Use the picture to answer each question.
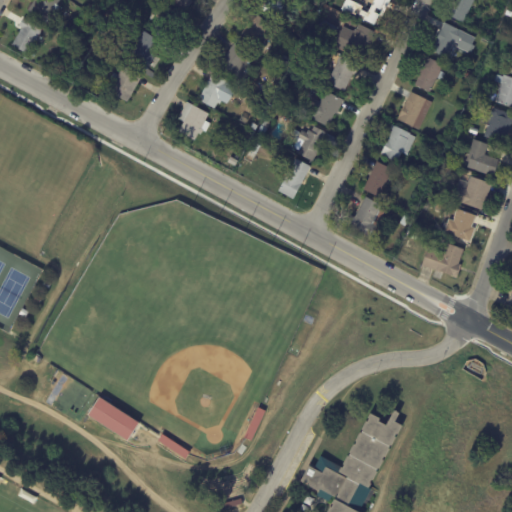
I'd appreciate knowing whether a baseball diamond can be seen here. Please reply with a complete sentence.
Yes, looking at the shot, I can spot a baseball diamond.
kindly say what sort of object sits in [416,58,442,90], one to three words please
house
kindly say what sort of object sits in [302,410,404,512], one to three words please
building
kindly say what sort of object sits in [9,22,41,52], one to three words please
house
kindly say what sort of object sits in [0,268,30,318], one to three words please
tennis court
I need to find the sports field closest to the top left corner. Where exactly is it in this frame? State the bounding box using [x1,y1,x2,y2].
[0,92,98,258]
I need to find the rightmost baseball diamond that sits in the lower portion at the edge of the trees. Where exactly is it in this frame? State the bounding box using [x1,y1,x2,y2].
[40,200,326,460]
